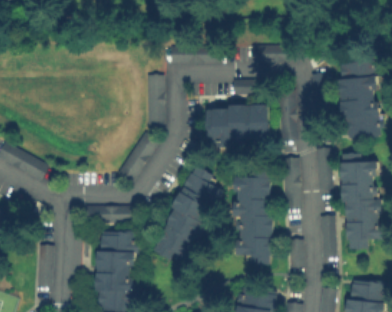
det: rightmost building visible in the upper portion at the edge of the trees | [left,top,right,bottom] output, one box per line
[340,62,384,138]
